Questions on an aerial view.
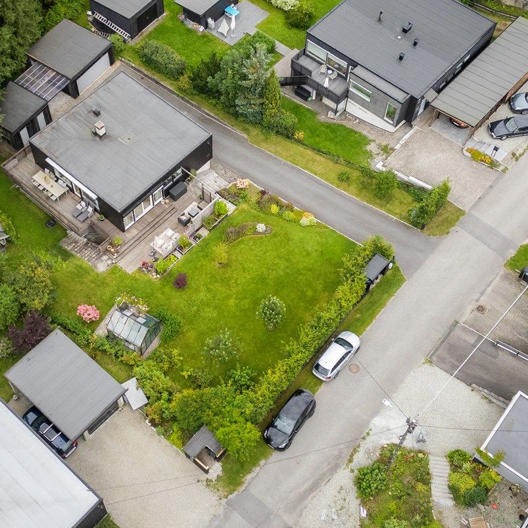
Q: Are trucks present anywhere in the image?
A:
No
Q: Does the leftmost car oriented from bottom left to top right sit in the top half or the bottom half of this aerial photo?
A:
bottom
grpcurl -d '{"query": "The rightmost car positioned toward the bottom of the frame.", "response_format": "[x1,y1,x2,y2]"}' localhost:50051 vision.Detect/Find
[310,328,362,385]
